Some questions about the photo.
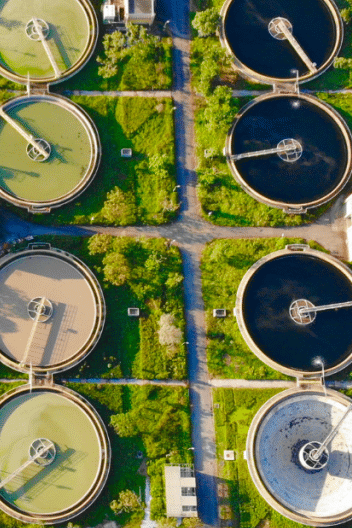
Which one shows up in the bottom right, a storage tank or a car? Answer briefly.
storage tank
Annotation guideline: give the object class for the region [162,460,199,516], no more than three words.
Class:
building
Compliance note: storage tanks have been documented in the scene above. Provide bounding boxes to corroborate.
[0,0,99,98]
[220,92,352,217]
[0,238,107,395]
[0,372,111,523]
[0,92,103,218]
[216,0,342,107]
[240,374,352,525]
[230,239,352,395]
